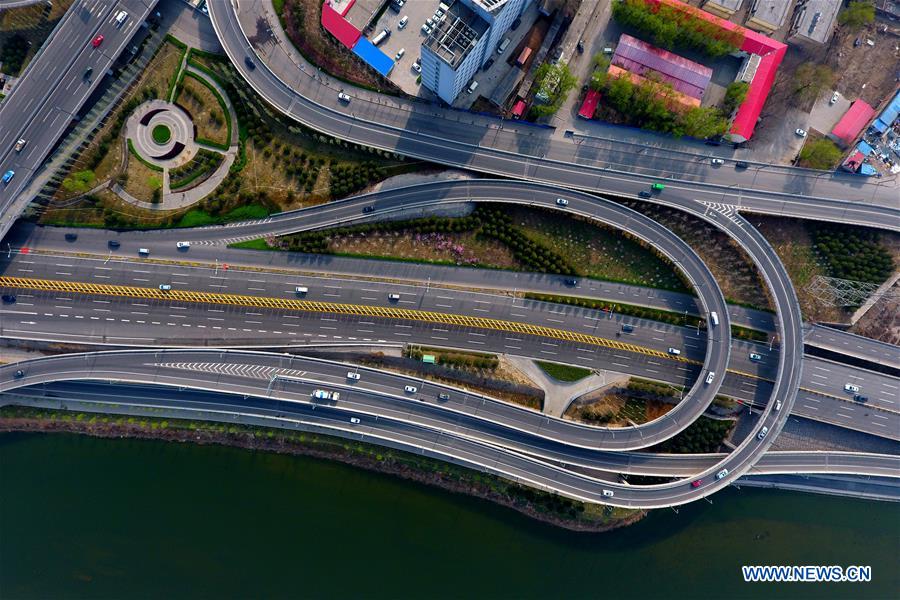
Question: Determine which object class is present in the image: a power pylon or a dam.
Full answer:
The one in the frame is a power pylon.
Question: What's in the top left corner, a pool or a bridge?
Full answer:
What appears in the top left corner is a bridge.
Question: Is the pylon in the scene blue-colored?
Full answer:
No, the pylon is gray.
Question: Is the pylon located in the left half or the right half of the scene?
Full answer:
The pylon is on the right side of the image.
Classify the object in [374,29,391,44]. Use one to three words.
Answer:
vehicle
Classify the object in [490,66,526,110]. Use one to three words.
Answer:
shed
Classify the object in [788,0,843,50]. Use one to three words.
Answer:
house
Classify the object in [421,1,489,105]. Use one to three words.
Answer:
building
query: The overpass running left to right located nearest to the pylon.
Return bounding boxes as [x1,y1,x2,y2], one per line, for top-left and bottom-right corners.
[207,0,900,232]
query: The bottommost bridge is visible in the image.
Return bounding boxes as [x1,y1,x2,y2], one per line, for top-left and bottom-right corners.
[0,349,279,401]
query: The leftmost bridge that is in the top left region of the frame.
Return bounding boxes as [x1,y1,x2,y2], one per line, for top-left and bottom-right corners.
[0,0,160,222]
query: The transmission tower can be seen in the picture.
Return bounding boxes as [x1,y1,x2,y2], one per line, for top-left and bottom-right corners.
[806,275,886,307]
